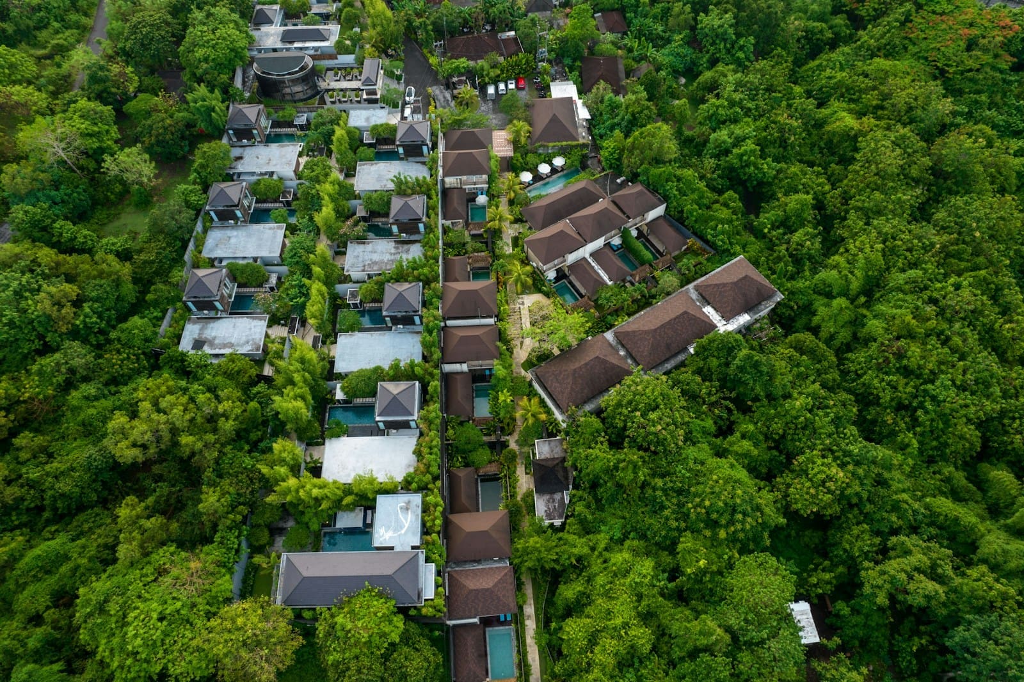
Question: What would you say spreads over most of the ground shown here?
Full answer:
Most of the picture is covered by trees.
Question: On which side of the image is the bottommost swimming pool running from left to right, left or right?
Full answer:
The bottommost swimming pool running from left to right sits on the left side.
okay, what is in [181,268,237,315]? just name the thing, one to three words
building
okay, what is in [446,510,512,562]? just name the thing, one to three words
house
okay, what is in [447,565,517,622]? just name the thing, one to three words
house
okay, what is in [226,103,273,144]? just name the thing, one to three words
building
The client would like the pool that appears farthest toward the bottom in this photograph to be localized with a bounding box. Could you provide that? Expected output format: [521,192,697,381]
[485,627,516,681]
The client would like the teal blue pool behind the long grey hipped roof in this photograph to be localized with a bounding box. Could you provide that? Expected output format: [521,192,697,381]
[320,529,376,551]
